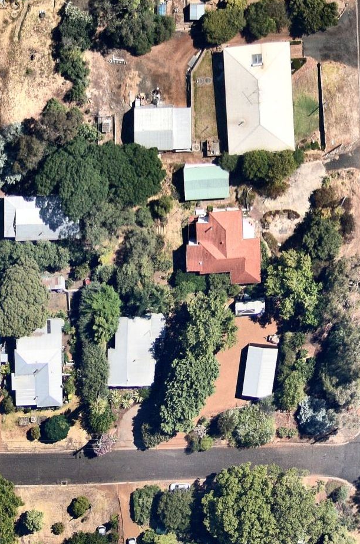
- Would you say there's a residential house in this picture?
Yes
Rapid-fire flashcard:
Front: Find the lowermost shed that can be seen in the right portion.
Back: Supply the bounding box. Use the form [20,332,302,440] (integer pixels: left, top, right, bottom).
[241,342,278,398]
